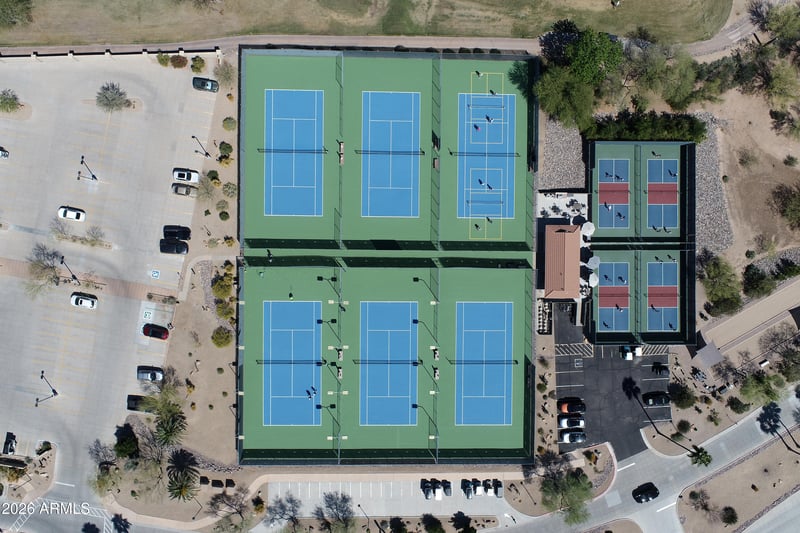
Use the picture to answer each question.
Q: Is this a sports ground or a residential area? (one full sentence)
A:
It's a sports ground.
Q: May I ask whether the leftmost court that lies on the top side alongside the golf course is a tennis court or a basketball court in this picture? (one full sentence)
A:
It turns out the leftmost court that lies on the top side alongside the golf course is a tennis court.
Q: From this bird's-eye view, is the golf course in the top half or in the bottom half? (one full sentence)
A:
The top half of the photo is where the golf course is.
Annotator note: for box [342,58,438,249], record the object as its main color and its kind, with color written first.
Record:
green tennis court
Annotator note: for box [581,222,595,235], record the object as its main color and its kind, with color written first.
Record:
white umbrella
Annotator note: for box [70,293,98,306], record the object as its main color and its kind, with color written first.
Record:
white vehicle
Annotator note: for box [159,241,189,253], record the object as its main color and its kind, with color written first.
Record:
black vehicle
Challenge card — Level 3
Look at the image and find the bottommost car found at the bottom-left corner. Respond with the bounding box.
[4,431,20,456]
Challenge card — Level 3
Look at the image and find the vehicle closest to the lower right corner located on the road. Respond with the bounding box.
[633,483,658,501]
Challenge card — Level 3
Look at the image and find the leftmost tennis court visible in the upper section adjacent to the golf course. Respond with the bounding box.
[245,55,343,249]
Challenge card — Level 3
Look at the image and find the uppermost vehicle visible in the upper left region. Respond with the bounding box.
[191,77,219,92]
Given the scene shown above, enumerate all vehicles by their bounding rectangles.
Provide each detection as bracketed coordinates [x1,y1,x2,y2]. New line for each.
[561,431,586,444]
[424,484,431,499]
[633,483,658,501]
[162,227,190,239]
[495,483,503,499]
[4,431,20,456]
[465,484,472,499]
[559,401,584,413]
[70,293,98,306]
[622,349,632,363]
[474,481,483,497]
[159,241,189,253]
[191,77,219,92]
[171,183,198,195]
[127,397,145,410]
[434,485,442,501]
[651,366,666,374]
[643,392,668,405]
[59,207,86,220]
[630,345,641,358]
[142,324,170,338]
[559,417,584,429]
[135,368,165,381]
[444,482,452,498]
[485,483,494,499]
